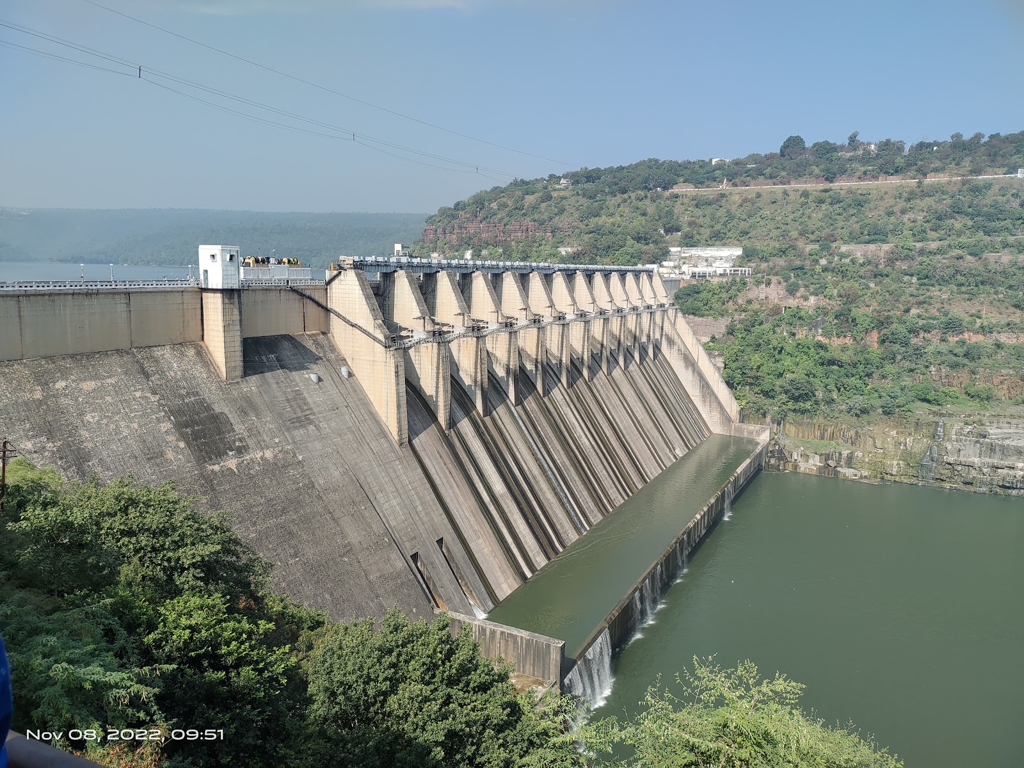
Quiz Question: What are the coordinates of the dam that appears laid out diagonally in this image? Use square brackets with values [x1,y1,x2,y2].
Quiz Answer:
[566,432,768,705]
